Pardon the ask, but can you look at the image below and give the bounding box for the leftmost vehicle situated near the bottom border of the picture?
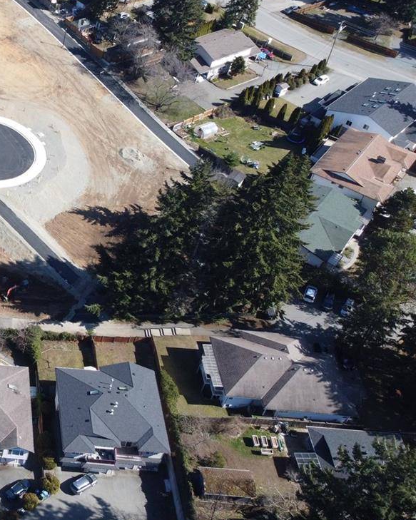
[2,475,31,500]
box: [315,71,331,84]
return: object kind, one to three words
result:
vehicle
